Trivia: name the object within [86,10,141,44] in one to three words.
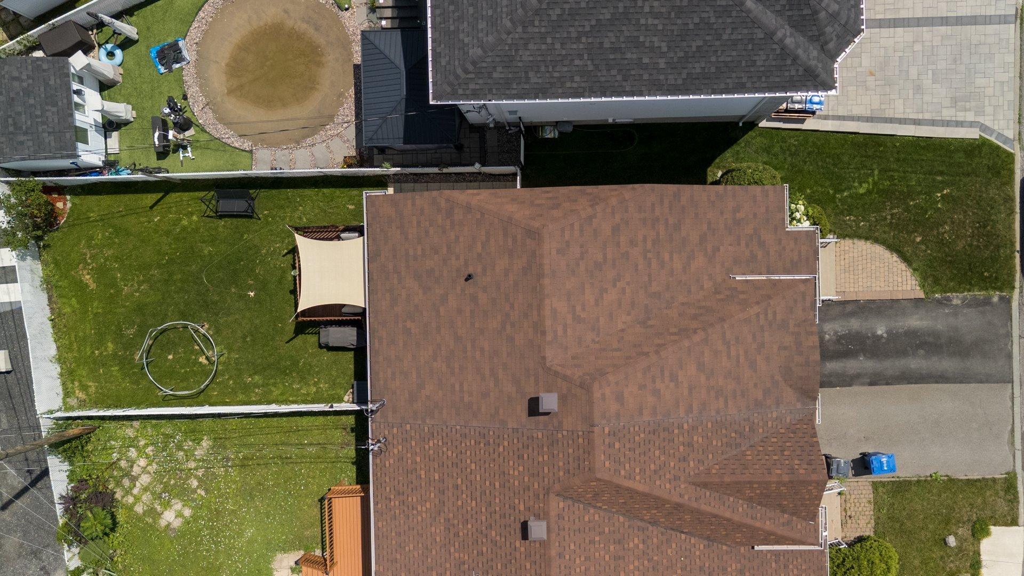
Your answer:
umbrella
